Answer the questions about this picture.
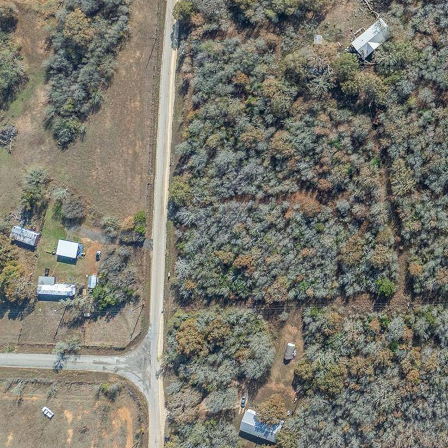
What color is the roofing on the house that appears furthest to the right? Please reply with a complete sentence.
The color of the roof on the house that appears furthest to the right is white.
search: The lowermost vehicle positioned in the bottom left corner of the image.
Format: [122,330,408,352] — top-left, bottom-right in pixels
[41,406,55,420]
